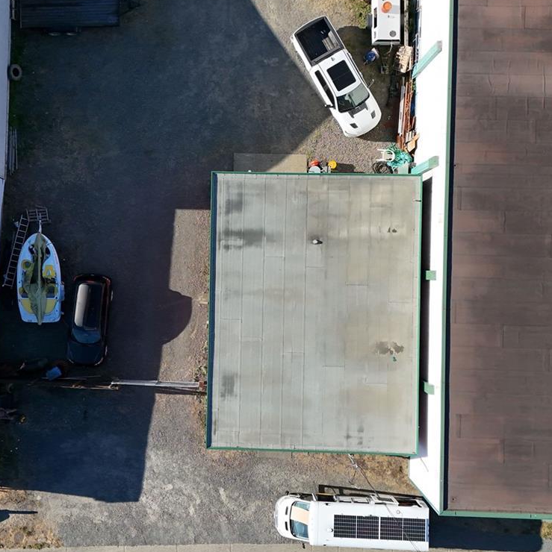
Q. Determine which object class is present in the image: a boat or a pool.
boat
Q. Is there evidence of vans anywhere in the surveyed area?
Yes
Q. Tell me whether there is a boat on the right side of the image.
No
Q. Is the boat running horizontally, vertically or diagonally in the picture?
vertically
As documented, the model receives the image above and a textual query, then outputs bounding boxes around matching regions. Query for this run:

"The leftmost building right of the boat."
[207,173,421,455]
